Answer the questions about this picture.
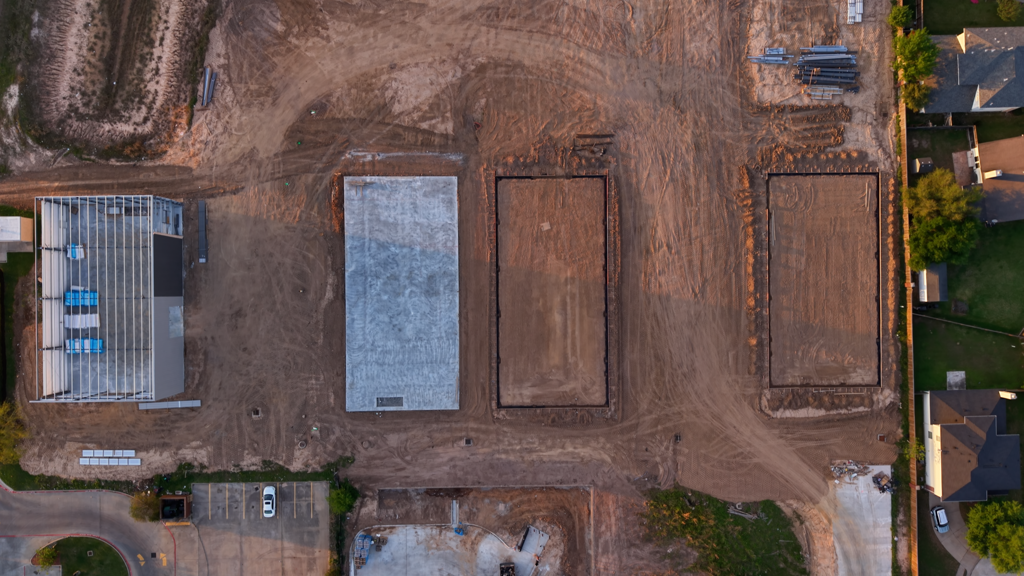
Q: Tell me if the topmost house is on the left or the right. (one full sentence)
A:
The topmost house appears in the right half of the scene.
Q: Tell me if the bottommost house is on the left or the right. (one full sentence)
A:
It is on the right.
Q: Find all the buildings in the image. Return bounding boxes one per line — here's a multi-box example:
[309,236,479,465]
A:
[918,27,1024,113]
[911,157,936,174]
[28,194,185,403]
[959,135,1024,224]
[0,216,33,242]
[916,263,951,302]
[922,389,1021,502]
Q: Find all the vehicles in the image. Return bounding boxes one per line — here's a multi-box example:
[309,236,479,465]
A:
[261,486,276,518]
[931,502,950,531]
